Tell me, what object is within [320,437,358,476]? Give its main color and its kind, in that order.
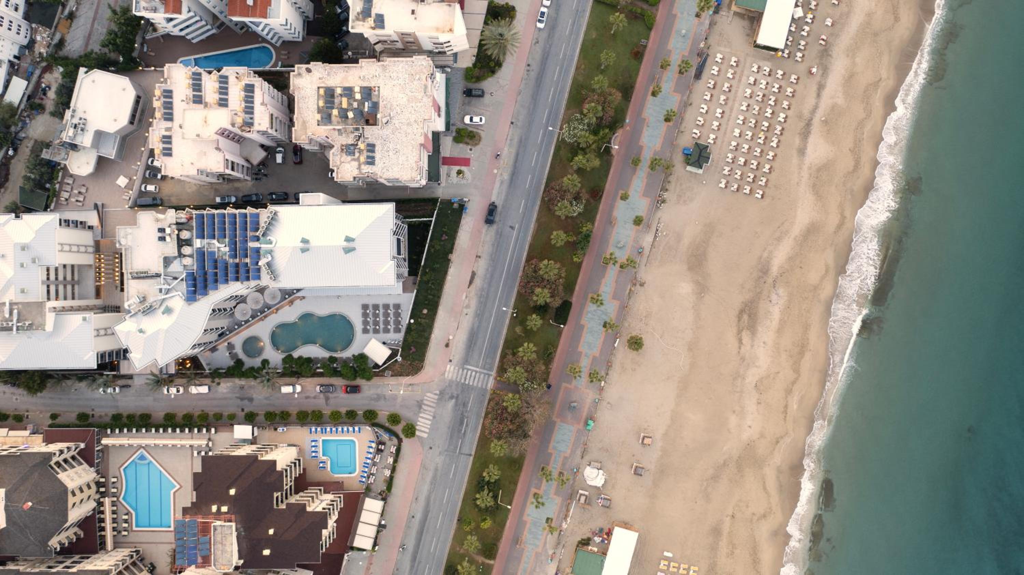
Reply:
blue swimming pool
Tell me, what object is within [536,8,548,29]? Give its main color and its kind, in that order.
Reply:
white vehicle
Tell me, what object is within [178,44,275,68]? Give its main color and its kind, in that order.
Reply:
blue swimming pool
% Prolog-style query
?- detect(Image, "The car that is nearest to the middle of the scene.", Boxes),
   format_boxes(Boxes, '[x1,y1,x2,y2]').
[485,203,497,224]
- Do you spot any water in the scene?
Yes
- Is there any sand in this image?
Yes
